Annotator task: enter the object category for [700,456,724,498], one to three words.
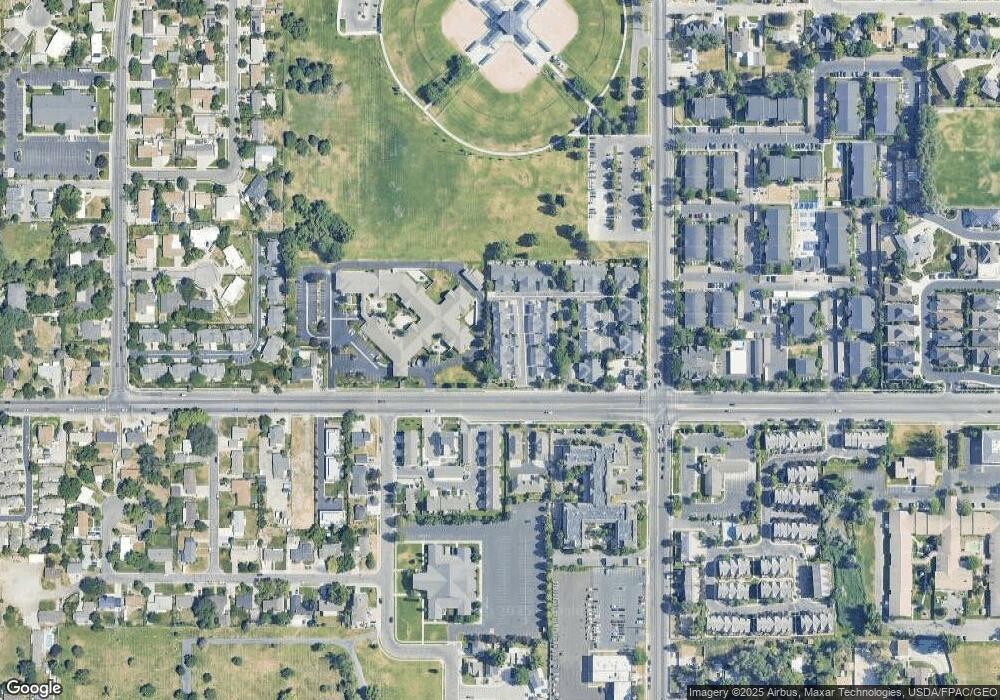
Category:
building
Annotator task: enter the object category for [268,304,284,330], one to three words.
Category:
house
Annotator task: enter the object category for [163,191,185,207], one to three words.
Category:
house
